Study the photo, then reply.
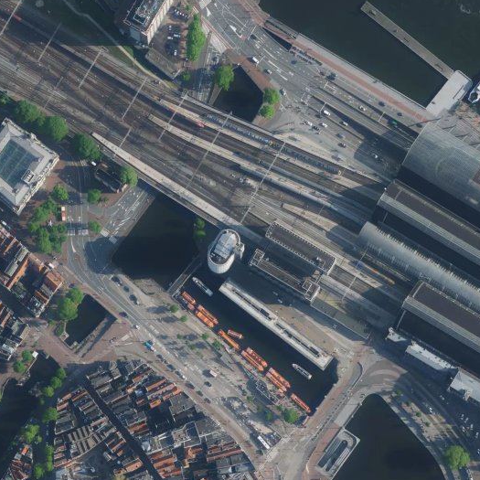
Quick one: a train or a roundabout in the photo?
train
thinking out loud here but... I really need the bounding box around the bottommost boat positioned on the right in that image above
[290,393,311,413]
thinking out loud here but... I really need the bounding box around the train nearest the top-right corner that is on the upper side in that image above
[274,143,339,174]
